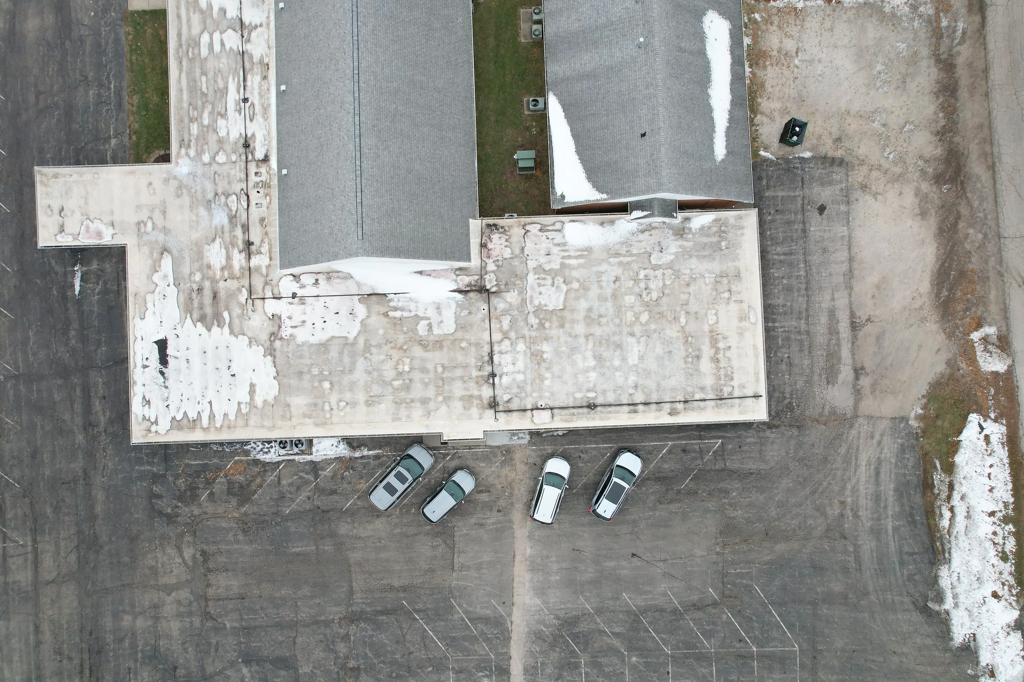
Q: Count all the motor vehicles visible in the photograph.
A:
4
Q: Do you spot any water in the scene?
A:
No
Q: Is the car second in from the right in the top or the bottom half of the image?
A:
bottom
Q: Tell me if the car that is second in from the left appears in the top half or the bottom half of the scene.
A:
bottom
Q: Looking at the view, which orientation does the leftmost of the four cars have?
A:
at an angle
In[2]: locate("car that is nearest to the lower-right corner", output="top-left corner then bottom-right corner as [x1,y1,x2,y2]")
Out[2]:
[590,452,641,521]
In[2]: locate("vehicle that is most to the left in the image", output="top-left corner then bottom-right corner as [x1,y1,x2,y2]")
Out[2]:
[368,444,431,511]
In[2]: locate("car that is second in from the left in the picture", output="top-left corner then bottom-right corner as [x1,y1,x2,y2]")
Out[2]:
[420,468,475,526]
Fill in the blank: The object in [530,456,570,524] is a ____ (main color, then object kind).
white car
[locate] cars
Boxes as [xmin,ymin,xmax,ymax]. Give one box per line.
[530,456,570,524]
[420,468,475,526]
[368,444,431,511]
[590,452,641,521]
